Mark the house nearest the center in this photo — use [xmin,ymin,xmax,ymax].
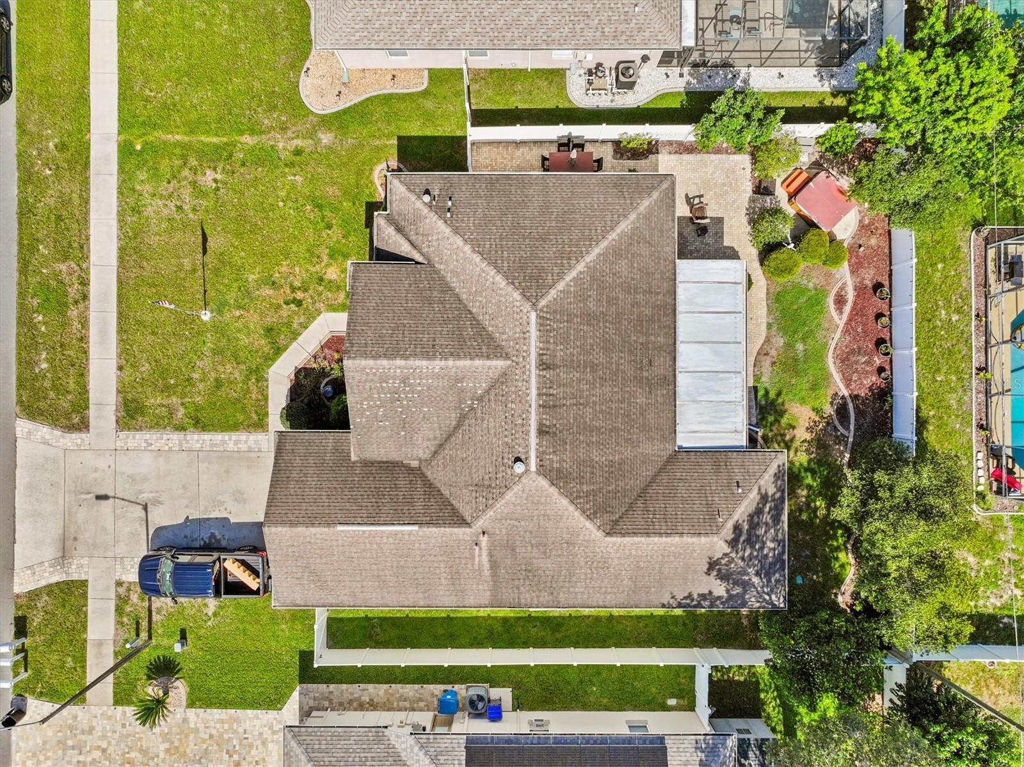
[261,171,788,610]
